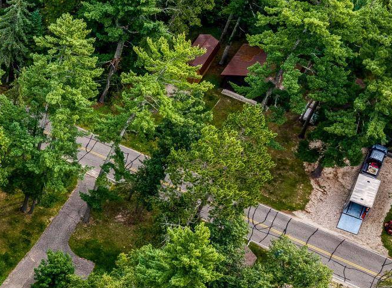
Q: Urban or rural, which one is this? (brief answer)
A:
rural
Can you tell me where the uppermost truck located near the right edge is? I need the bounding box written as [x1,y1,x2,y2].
[357,144,386,177]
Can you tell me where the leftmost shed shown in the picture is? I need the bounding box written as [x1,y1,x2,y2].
[179,32,219,79]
